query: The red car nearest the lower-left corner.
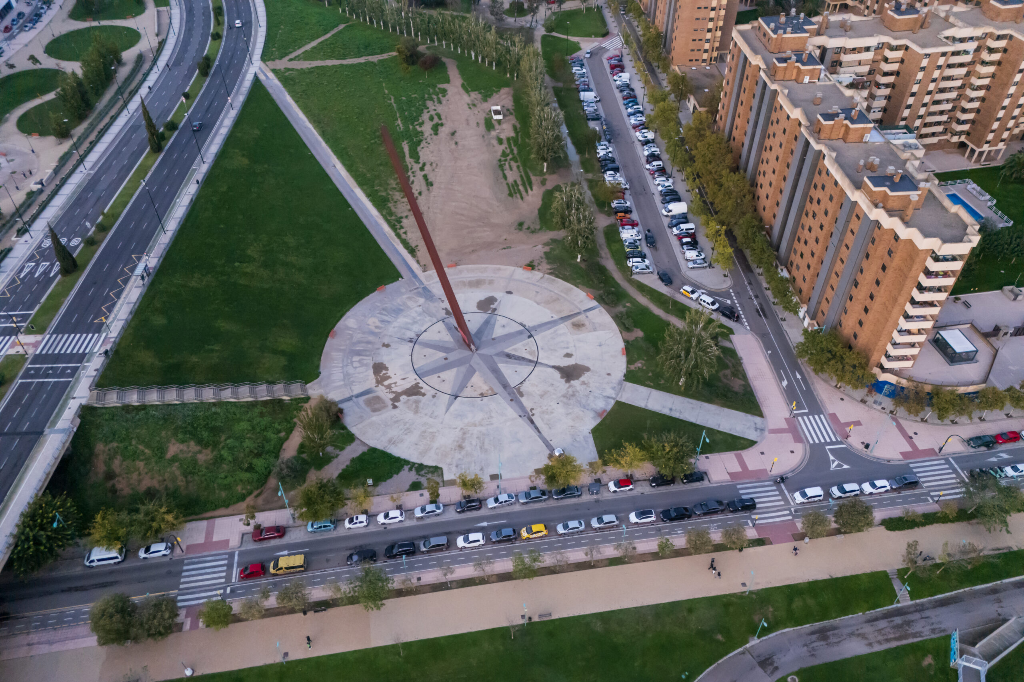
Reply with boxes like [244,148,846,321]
[241,563,271,579]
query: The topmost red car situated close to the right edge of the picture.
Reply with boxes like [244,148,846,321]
[994,431,1022,445]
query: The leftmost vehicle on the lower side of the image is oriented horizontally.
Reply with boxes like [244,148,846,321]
[84,544,127,568]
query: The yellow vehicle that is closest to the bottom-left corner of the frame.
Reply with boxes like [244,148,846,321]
[271,554,307,576]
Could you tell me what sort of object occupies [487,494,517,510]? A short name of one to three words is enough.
car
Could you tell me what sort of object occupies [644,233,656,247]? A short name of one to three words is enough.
vehicle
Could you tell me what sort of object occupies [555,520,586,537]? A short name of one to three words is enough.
car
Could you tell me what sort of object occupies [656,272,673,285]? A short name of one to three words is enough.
vehicle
